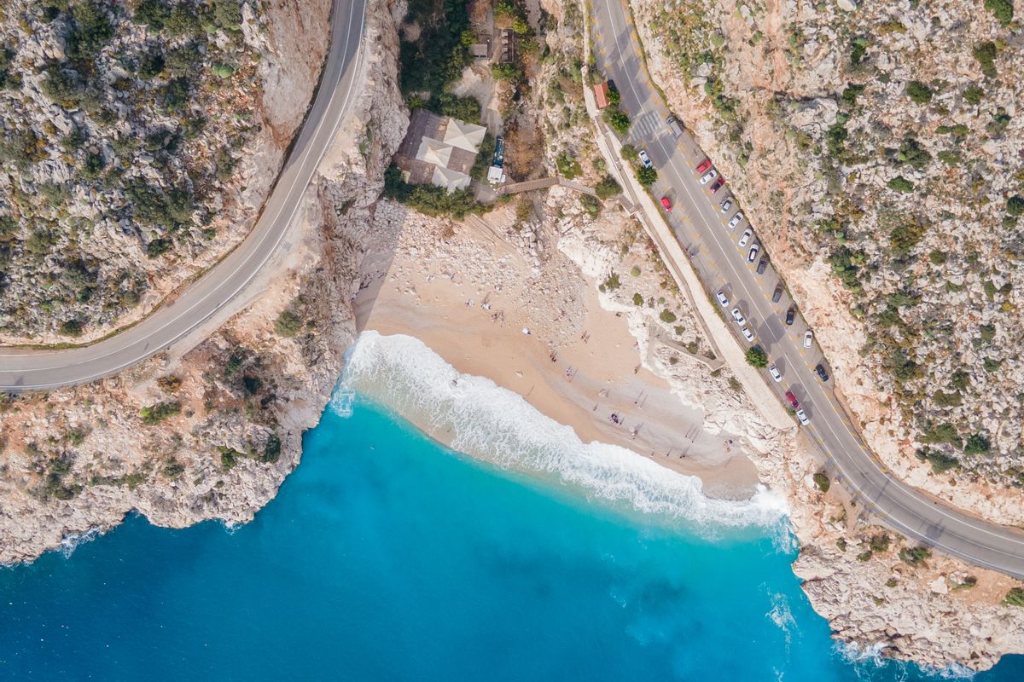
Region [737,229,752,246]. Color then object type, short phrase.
white car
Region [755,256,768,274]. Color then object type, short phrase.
gray vehicle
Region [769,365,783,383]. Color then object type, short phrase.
white car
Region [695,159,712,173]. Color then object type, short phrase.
red car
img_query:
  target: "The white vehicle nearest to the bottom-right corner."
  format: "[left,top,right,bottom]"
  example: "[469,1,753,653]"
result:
[796,408,810,426]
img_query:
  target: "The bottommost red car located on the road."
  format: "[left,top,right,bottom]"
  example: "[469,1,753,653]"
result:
[785,390,799,408]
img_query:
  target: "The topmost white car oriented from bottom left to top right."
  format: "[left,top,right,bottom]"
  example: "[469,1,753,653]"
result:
[699,169,717,185]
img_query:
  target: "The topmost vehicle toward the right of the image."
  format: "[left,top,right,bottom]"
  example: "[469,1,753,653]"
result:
[667,117,684,138]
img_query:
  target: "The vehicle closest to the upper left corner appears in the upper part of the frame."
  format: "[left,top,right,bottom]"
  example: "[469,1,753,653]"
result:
[486,136,505,183]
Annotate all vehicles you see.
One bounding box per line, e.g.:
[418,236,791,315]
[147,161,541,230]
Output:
[755,256,768,274]
[695,159,712,173]
[801,331,812,348]
[639,150,653,168]
[719,197,734,213]
[727,211,742,228]
[796,408,810,426]
[784,307,795,324]
[785,390,799,408]
[699,169,717,185]
[667,117,684,138]
[659,196,672,213]
[814,364,829,382]
[486,136,505,183]
[715,290,729,308]
[769,365,783,383]
[770,286,783,303]
[709,178,725,192]
[737,229,752,246]
[731,308,746,326]
[740,326,755,344]
[746,244,759,261]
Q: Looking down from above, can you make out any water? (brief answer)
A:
Yes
